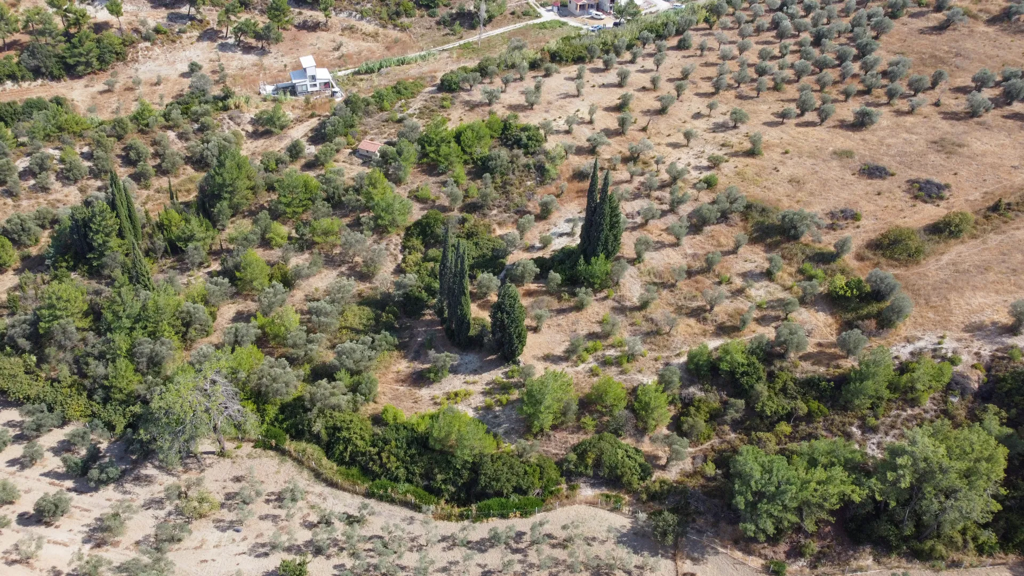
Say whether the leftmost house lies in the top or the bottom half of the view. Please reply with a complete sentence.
The leftmost house is in the top half of the image.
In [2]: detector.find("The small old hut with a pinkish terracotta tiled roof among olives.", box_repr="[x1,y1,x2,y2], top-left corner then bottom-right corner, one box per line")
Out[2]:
[355,138,386,159]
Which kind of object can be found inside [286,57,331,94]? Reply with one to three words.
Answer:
house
